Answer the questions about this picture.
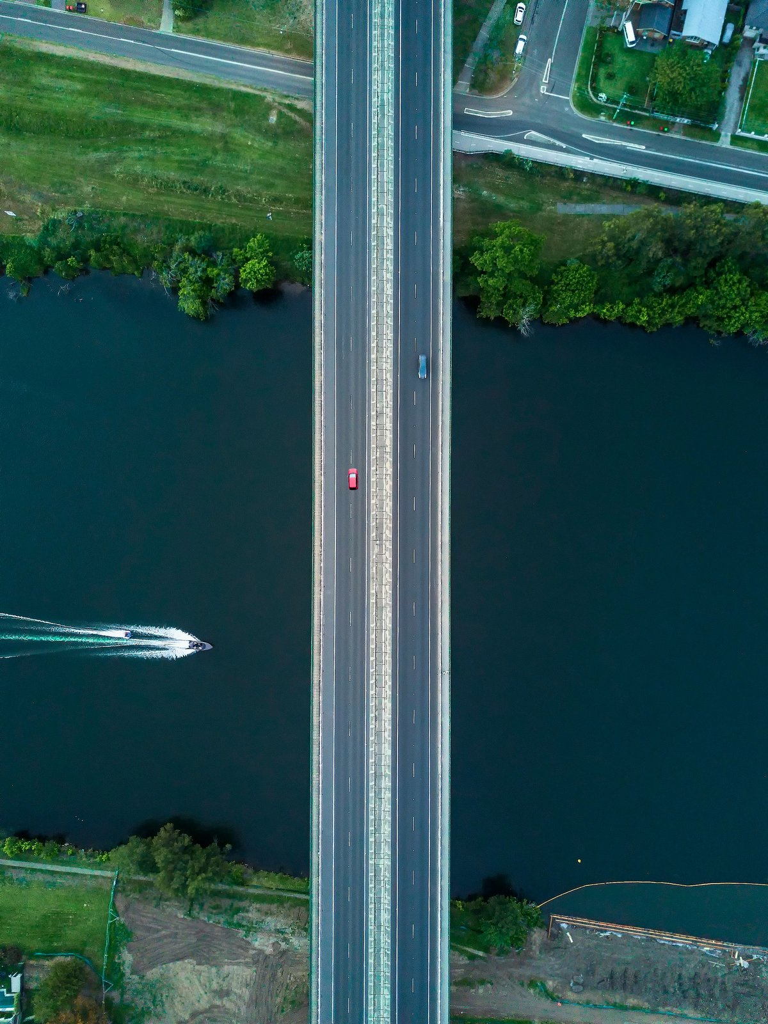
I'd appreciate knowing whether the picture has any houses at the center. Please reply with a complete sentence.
No, no house is visible at the center.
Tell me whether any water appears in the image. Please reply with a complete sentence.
Yes, there's water in this view.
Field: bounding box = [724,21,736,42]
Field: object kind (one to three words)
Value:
vehicle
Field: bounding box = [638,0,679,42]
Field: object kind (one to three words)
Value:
house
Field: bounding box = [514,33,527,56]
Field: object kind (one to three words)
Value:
vehicle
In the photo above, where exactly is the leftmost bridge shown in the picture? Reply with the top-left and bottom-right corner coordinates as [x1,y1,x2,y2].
[310,0,453,1024]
